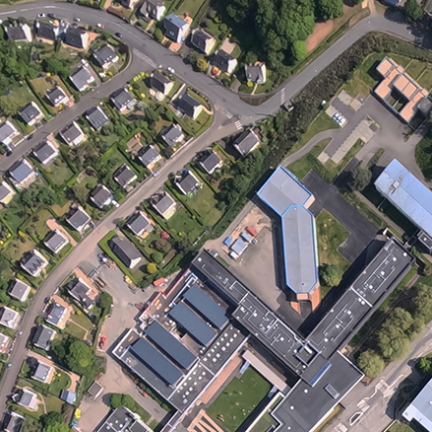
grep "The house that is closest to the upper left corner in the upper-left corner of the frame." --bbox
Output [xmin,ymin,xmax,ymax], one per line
[2,25,33,47]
